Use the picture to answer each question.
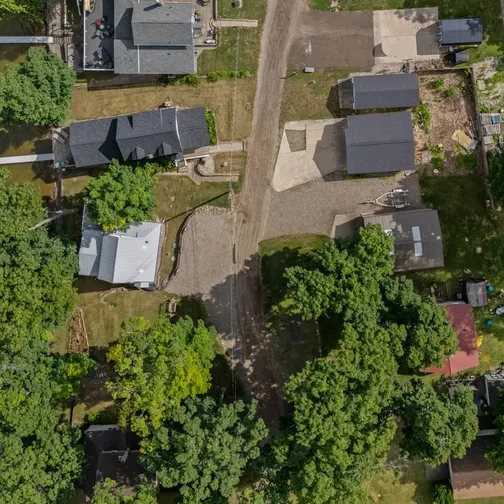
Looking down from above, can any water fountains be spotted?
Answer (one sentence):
No, I find no water fountain anywhere in the image.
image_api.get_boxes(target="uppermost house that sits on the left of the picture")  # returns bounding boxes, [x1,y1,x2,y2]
[82,0,205,74]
